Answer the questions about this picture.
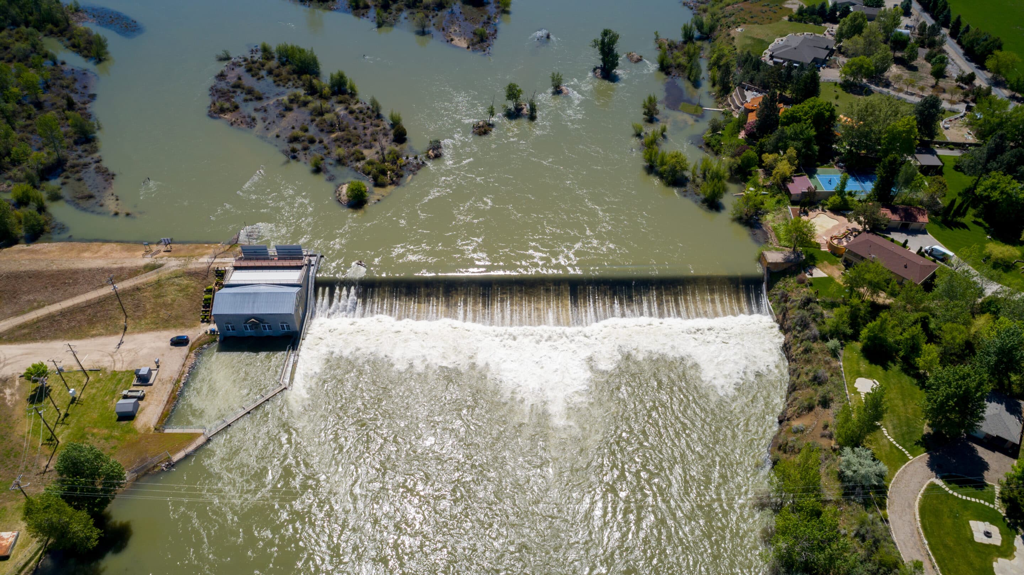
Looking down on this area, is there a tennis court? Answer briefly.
Yes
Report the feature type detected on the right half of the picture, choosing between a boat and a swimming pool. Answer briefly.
swimming pool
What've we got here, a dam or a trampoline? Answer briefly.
dam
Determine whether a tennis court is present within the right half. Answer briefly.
Yes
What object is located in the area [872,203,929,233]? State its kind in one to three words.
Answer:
building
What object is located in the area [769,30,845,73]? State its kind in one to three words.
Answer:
house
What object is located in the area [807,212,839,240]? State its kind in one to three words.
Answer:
swimming pool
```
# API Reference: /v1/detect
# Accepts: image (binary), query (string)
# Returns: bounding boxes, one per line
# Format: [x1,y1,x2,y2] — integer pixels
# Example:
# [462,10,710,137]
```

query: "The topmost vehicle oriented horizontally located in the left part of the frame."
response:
[166,335,191,347]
